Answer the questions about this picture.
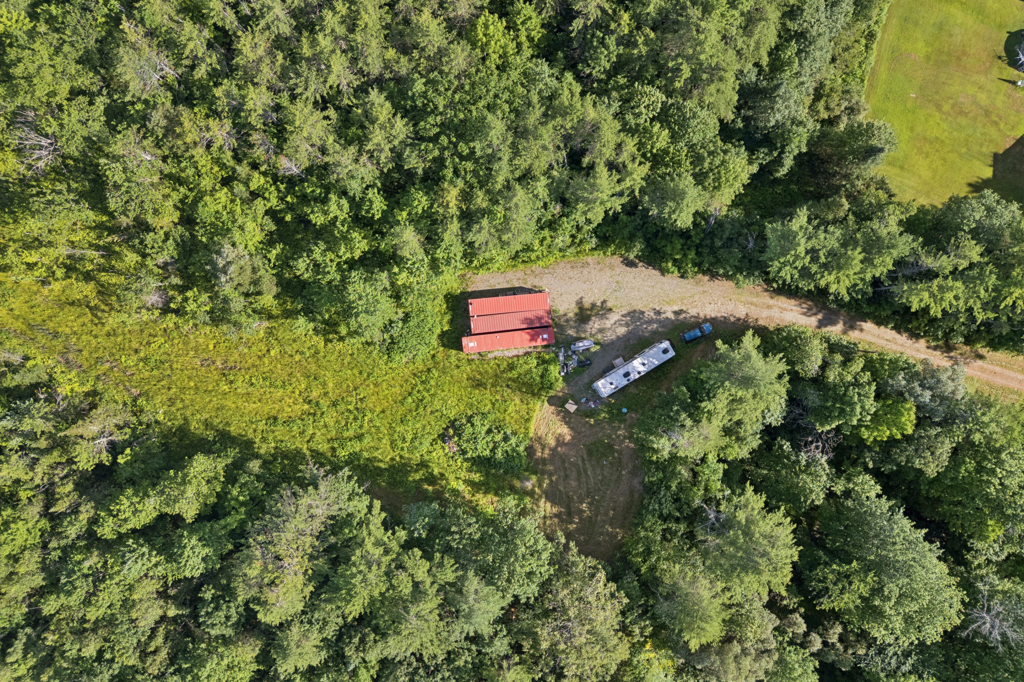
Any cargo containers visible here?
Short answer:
Yes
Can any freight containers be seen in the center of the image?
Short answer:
Yes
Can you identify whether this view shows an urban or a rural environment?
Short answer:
rural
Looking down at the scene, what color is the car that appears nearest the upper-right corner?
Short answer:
blue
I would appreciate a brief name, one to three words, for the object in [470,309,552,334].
shipping container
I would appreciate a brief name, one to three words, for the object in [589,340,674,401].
camper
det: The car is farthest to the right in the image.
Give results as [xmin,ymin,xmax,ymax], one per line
[679,321,712,343]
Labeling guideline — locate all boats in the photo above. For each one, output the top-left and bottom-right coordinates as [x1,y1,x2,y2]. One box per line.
[570,339,596,351]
